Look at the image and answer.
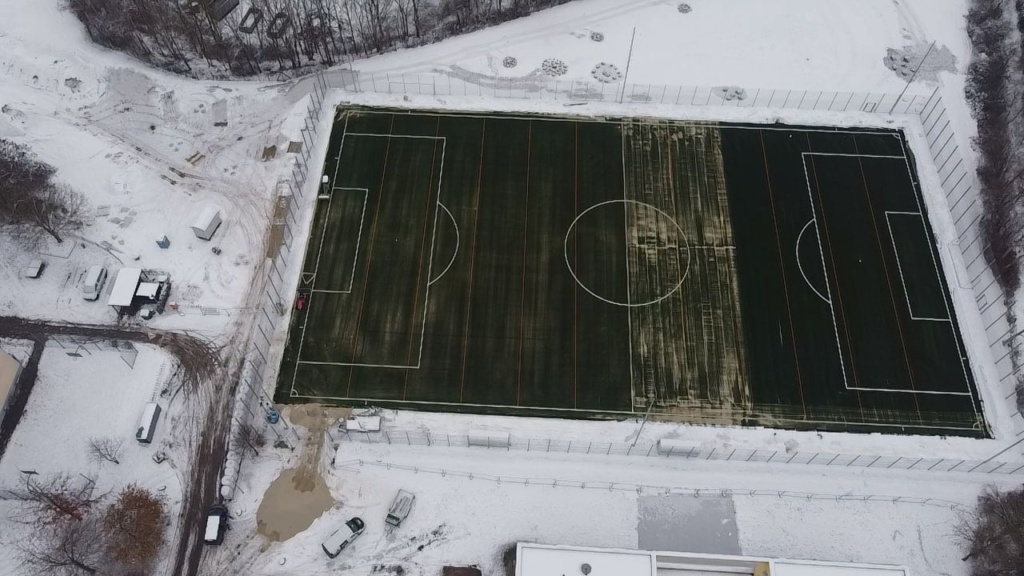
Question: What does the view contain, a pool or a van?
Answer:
van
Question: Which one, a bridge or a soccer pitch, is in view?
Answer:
soccer pitch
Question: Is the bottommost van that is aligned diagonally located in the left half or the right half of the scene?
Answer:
left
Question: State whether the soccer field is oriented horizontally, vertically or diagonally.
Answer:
horizontally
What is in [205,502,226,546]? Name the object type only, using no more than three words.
vehicle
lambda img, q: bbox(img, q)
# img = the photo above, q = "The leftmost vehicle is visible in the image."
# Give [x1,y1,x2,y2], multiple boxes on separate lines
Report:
[84,266,107,301]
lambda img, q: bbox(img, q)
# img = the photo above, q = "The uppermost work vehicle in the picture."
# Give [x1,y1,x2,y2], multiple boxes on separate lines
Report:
[320,174,333,201]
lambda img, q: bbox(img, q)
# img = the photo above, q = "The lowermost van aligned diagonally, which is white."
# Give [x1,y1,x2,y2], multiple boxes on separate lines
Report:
[320,516,365,561]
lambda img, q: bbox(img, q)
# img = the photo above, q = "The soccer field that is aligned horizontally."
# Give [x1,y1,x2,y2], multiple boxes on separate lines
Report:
[273,106,989,438]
